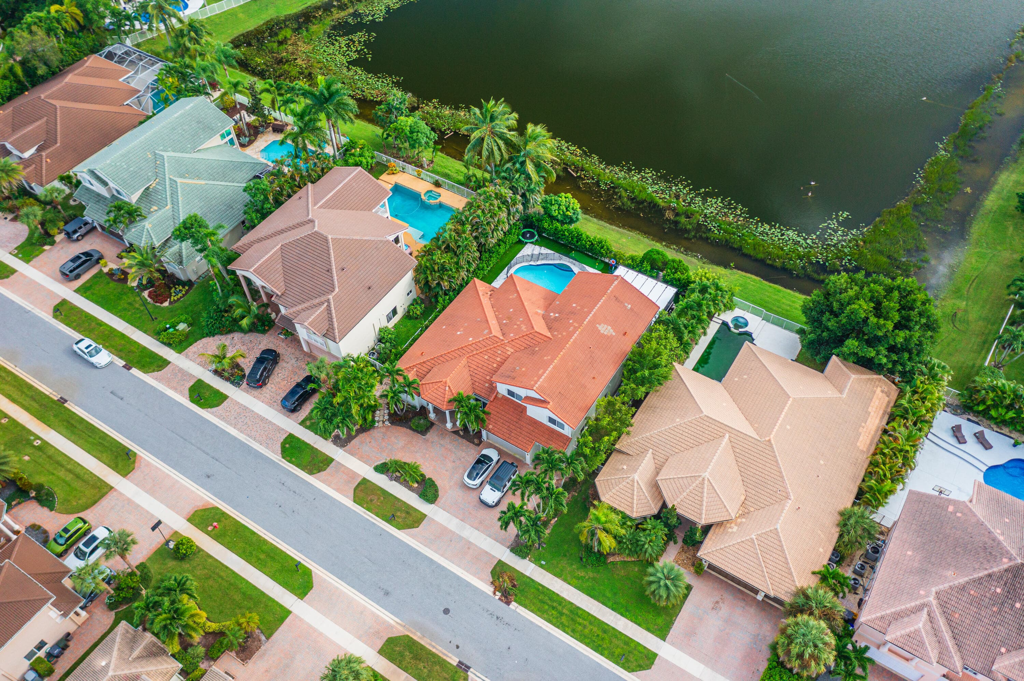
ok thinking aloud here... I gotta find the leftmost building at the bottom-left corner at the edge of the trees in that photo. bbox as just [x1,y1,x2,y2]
[0,529,92,681]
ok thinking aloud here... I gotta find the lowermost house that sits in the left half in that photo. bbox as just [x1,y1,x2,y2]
[67,619,185,681]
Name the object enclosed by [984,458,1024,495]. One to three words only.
swimming pool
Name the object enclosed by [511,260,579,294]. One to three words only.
swimming pool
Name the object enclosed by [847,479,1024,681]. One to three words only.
house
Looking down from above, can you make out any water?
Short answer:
Yes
